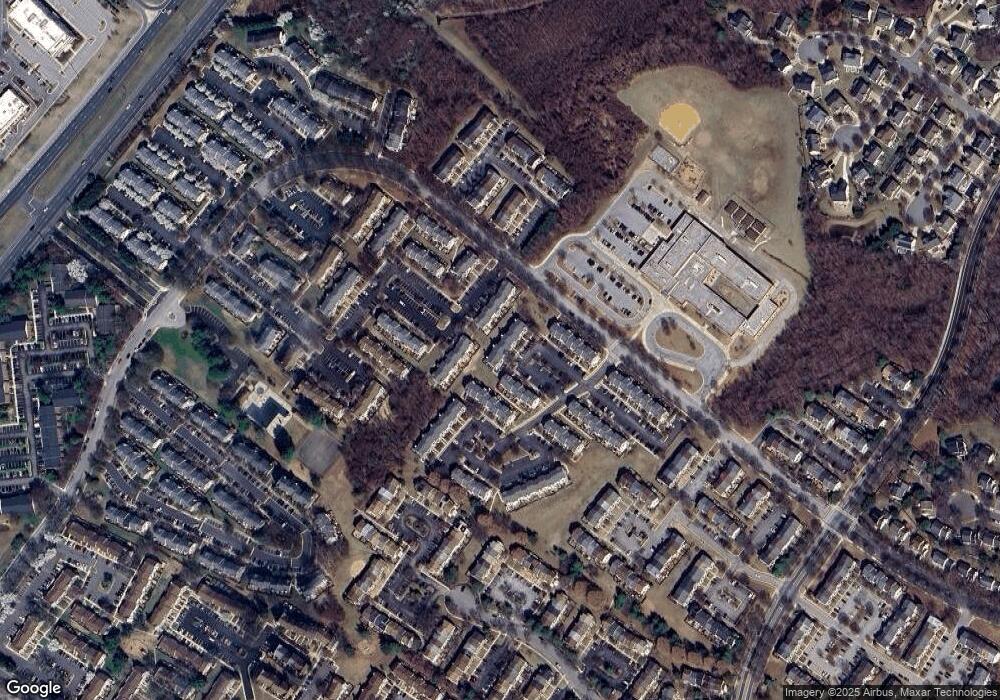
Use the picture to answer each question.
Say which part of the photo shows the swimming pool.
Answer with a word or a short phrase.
left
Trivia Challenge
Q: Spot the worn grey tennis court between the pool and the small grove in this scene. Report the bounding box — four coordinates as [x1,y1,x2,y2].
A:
[299,430,342,475]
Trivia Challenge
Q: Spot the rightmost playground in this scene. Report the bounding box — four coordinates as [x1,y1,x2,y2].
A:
[679,157,705,188]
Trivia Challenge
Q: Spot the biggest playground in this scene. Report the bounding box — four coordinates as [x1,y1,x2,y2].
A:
[119,630,155,660]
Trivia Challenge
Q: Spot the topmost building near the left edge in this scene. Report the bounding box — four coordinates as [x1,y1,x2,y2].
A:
[9,0,77,58]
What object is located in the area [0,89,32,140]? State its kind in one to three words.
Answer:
building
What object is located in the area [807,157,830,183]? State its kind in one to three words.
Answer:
house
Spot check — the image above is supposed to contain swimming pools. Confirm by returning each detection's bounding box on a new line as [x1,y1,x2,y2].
[242,380,296,438]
